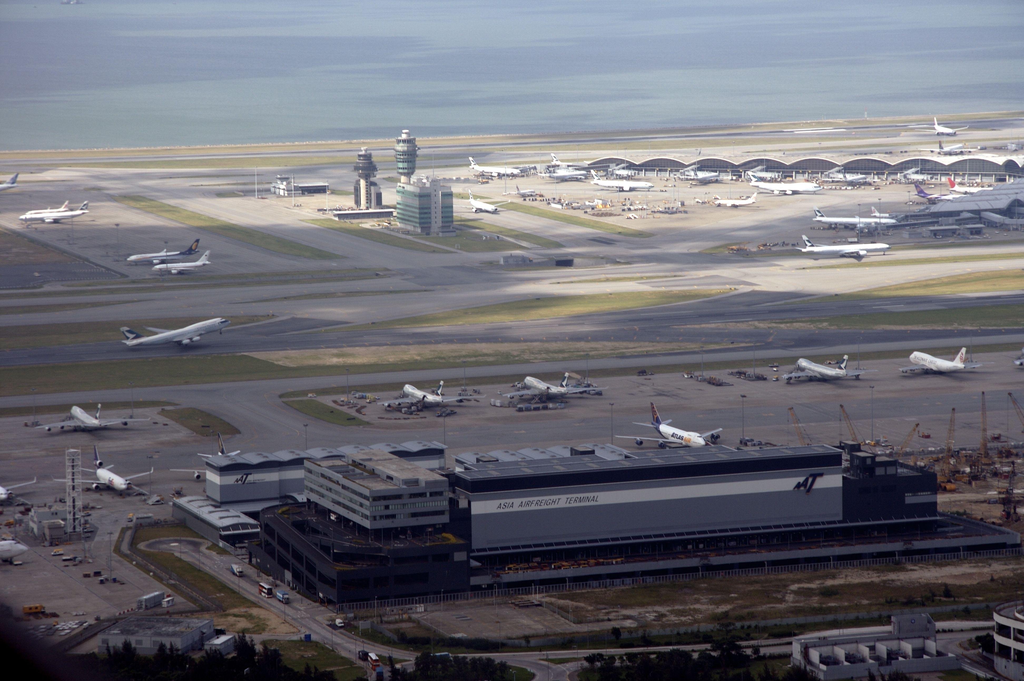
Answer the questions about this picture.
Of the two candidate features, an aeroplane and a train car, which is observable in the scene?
aeroplane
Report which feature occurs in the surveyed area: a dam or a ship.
ship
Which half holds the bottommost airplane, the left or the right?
left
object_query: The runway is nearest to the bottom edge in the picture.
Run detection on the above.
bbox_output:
[0,230,1024,366]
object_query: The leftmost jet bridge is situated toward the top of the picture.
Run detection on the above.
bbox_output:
[514,165,546,178]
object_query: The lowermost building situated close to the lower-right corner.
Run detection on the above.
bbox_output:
[771,596,957,679]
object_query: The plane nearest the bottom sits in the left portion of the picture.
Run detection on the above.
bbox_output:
[124,318,237,351]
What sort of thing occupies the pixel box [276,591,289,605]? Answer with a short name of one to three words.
vehicle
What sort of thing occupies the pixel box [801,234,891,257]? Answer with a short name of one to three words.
airplane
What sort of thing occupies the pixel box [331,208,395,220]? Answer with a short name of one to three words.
building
